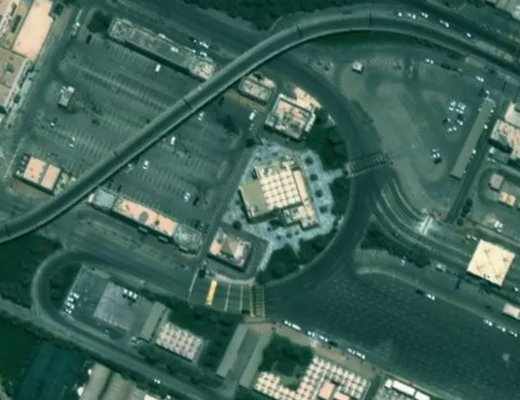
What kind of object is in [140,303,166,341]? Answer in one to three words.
shed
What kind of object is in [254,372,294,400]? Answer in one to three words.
building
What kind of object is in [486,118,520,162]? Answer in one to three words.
house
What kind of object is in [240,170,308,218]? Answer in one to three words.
building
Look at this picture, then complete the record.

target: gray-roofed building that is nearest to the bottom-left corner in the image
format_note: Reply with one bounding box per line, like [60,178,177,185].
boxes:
[79,363,111,400]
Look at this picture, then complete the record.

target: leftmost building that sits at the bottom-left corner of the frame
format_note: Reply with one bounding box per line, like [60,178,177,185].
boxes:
[19,343,81,400]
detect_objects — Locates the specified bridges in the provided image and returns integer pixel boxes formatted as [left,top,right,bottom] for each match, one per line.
[0,13,520,242]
